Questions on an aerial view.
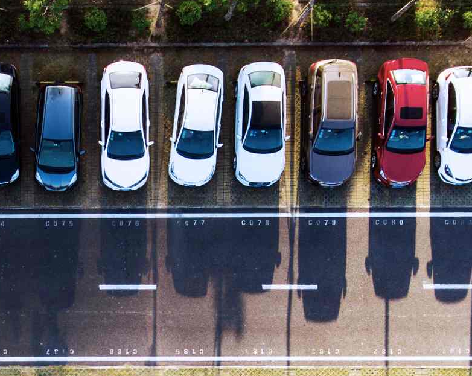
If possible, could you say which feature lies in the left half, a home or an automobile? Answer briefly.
automobile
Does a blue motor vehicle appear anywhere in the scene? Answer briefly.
Yes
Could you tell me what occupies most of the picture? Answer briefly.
paved ground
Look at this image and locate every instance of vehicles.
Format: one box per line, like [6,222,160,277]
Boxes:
[31,83,84,193]
[0,63,20,186]
[169,63,223,188]
[237,62,293,186]
[375,58,436,187]
[97,61,153,190]
[306,59,367,186]
[437,66,472,186]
